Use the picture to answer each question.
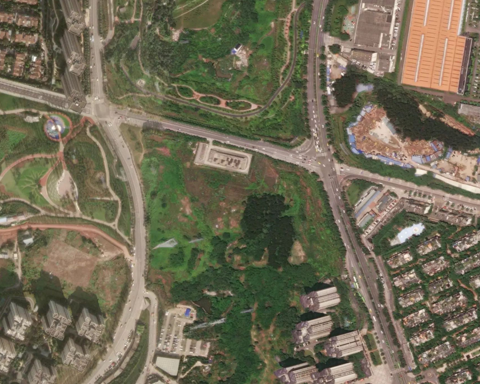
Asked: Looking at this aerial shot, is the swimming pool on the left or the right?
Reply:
right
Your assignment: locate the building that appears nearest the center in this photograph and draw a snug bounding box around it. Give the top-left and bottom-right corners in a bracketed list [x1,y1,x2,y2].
[194,142,252,174]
